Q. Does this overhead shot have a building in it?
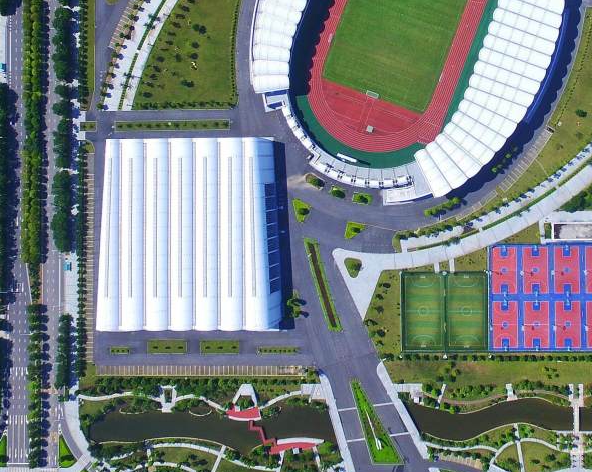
Yes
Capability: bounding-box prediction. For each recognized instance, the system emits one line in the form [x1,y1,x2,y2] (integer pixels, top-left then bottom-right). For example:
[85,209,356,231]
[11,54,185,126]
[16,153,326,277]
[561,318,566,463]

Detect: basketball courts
[584,248,592,294]
[493,301,516,348]
[584,301,592,348]
[523,248,548,294]
[554,301,580,348]
[554,248,580,294]
[493,248,516,294]
[523,301,548,348]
